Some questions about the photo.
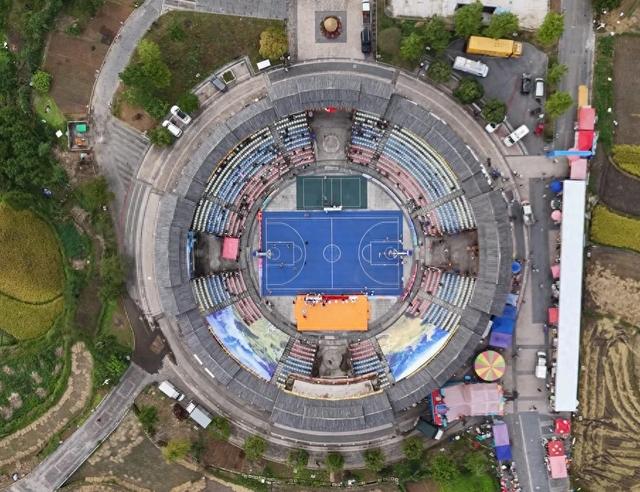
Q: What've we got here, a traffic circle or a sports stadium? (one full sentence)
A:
Of the two, only a sports stadium appears.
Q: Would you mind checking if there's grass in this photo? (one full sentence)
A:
Yes, there's grass in this view.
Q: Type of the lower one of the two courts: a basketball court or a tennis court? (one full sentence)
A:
I'd say the lower one of the two courts is a basketball court.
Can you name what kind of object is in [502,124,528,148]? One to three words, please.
vehicle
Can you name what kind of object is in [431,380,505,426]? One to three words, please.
building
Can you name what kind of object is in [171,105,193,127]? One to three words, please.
car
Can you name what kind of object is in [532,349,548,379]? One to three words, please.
vehicle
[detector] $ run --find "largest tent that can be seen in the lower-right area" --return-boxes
[469,346,506,381]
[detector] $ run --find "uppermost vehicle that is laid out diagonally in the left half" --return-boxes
[211,75,231,96]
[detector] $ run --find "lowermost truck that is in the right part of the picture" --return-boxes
[412,414,442,441]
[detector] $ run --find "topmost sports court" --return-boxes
[298,176,368,209]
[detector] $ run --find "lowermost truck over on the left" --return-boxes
[186,399,216,430]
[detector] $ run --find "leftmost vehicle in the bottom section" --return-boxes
[155,376,189,403]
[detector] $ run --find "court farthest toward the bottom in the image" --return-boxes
[261,211,403,298]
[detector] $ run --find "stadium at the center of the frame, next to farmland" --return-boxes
[154,73,513,434]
